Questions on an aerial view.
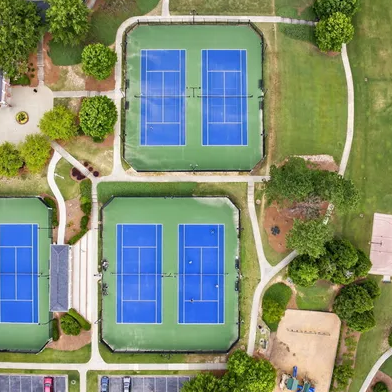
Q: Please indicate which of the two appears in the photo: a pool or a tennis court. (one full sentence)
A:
The one in the frame is a tennis court.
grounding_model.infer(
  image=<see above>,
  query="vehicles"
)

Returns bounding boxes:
[121,377,130,392]
[41,377,52,392]
[99,376,109,392]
